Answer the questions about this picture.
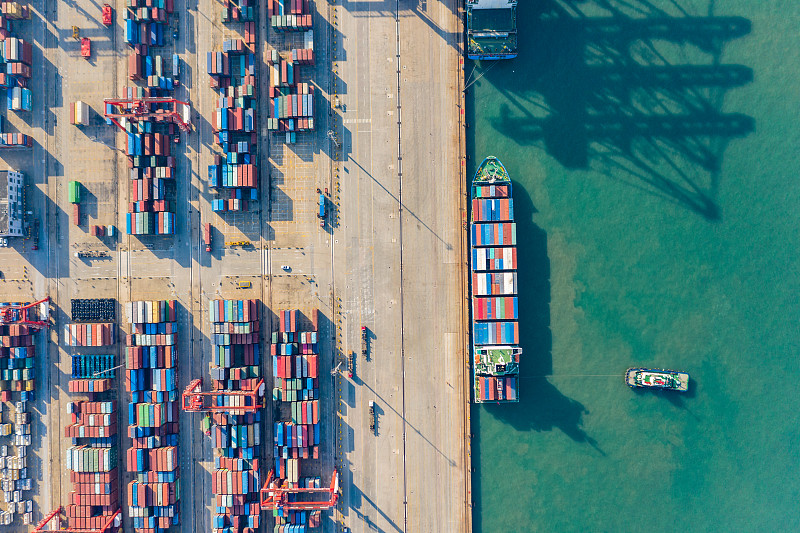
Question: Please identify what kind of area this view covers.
port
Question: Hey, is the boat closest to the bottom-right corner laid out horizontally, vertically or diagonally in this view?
horizontally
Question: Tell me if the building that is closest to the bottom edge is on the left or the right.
left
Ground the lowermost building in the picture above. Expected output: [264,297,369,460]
[0,170,28,236]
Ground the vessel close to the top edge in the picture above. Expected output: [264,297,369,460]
[468,0,517,60]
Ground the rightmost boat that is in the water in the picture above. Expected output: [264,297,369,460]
[625,366,687,389]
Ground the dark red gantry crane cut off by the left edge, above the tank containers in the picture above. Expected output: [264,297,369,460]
[0,295,48,328]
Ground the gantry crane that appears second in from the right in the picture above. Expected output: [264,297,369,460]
[184,376,265,413]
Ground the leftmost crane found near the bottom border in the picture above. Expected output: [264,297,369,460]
[33,505,120,533]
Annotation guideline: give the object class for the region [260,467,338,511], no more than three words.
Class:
container crane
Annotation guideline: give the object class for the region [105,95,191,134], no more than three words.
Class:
container crane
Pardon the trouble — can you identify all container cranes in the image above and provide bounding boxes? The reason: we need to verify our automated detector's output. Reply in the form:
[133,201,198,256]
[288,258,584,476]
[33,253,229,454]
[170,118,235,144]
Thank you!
[33,505,120,533]
[0,295,48,328]
[260,467,338,511]
[105,95,191,134]
[184,376,265,413]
